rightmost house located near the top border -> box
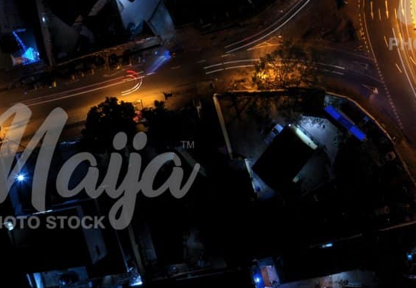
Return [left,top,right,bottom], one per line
[74,0,127,50]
